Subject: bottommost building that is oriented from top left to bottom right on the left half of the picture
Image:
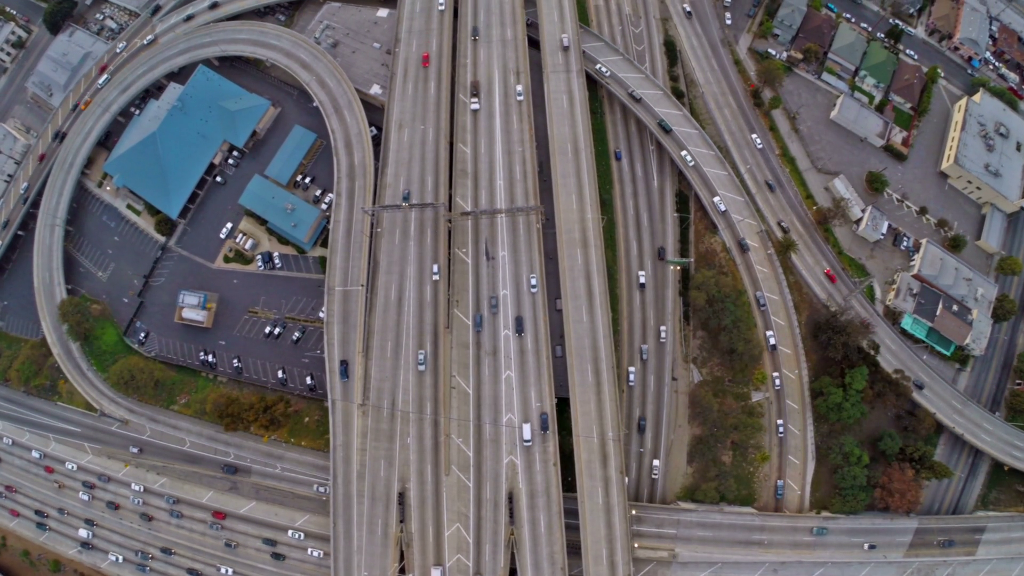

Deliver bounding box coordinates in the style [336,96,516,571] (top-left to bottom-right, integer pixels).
[239,174,327,251]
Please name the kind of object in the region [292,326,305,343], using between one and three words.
vehicle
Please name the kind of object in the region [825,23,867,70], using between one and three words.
house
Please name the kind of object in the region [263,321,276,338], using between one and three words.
vehicle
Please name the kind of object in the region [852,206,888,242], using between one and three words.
building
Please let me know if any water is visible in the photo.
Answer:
No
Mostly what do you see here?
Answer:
paved ground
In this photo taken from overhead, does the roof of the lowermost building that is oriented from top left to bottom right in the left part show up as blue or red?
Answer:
blue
